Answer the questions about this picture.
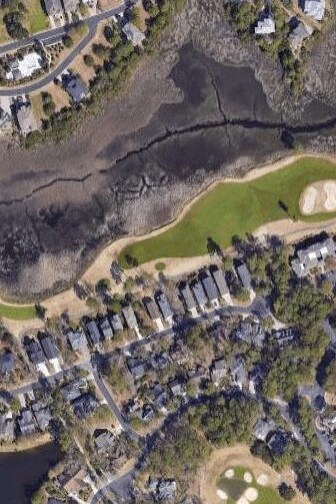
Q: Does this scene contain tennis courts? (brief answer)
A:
No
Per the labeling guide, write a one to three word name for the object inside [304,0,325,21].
house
